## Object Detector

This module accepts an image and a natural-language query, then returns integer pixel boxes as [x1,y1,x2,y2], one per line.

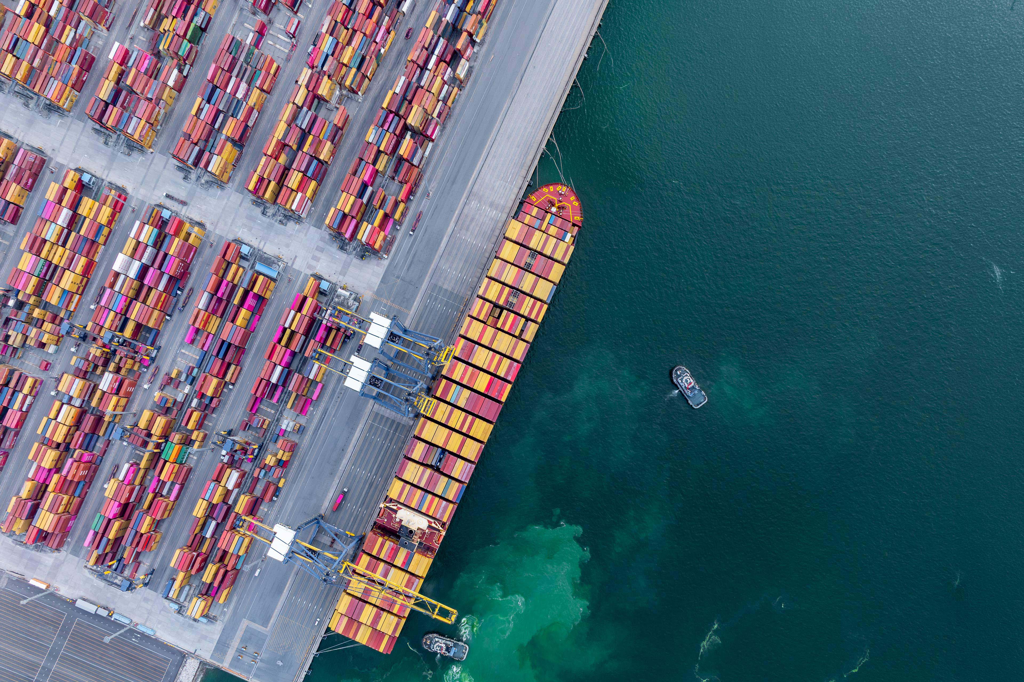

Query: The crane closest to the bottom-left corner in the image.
[96,556,152,593]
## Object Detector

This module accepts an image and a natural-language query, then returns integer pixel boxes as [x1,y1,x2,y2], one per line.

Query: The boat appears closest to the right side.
[672,367,710,409]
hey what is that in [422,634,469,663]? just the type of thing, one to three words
boat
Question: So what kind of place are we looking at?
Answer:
port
